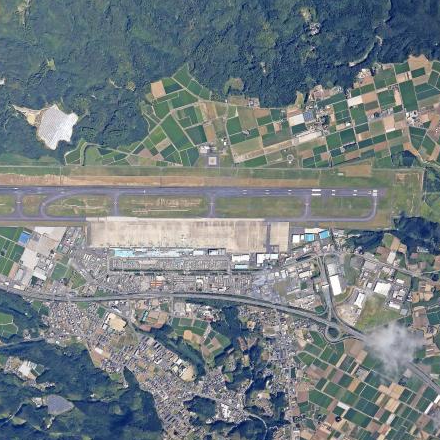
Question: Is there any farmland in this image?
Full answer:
Yes, the picture does contain farmland.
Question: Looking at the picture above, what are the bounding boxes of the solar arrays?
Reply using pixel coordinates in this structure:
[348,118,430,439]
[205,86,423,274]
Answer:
[43,394,75,415]
[38,105,78,149]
